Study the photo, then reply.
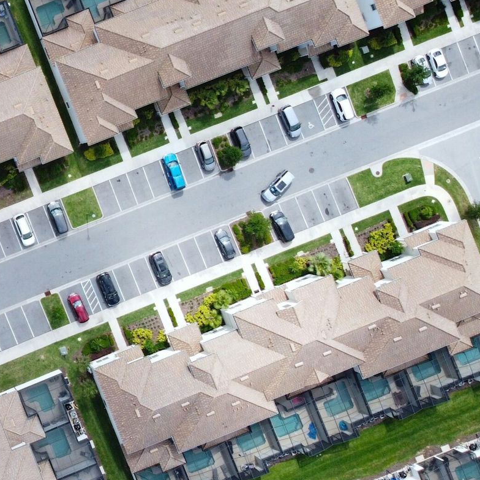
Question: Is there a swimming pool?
Yes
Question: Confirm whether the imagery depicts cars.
Yes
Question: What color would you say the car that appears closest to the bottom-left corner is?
red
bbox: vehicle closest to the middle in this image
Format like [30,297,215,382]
[214,227,237,261]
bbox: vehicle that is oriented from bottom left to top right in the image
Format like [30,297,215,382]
[261,170,294,201]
